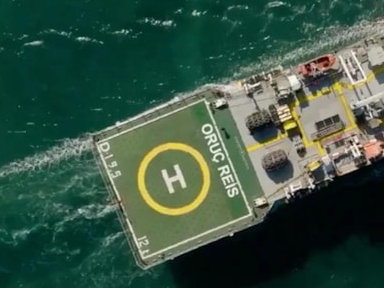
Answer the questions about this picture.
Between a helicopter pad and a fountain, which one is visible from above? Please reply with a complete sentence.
It is a helicopter pad that can be seen here.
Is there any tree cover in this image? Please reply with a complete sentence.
No, there is no tree cover in the image.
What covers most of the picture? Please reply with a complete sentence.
Most of the picture is covered by water.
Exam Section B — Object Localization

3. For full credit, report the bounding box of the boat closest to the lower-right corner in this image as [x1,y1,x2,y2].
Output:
[332,145,384,177]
